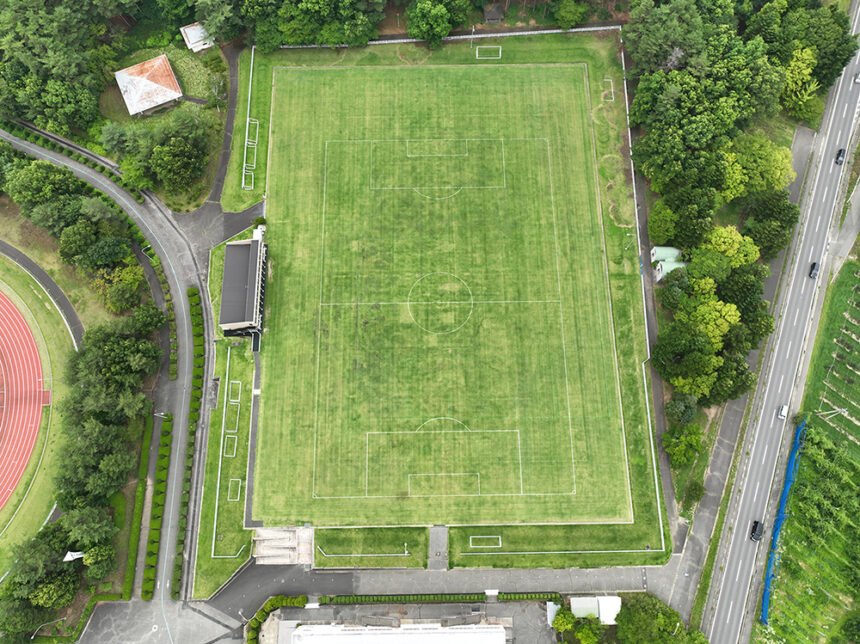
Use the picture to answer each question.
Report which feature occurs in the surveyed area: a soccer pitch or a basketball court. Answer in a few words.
soccer pitch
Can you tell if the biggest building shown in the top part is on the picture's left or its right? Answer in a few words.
left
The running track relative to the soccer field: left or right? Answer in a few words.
on its left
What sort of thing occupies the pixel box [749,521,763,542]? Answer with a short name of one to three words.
vehicle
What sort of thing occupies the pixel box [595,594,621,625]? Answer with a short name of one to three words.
shed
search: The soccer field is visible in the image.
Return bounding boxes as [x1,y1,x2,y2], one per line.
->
[246,64,634,527]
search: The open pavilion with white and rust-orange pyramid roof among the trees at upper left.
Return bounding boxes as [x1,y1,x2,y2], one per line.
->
[115,55,182,118]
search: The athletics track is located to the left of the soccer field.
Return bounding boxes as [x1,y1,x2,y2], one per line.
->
[0,240,88,573]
